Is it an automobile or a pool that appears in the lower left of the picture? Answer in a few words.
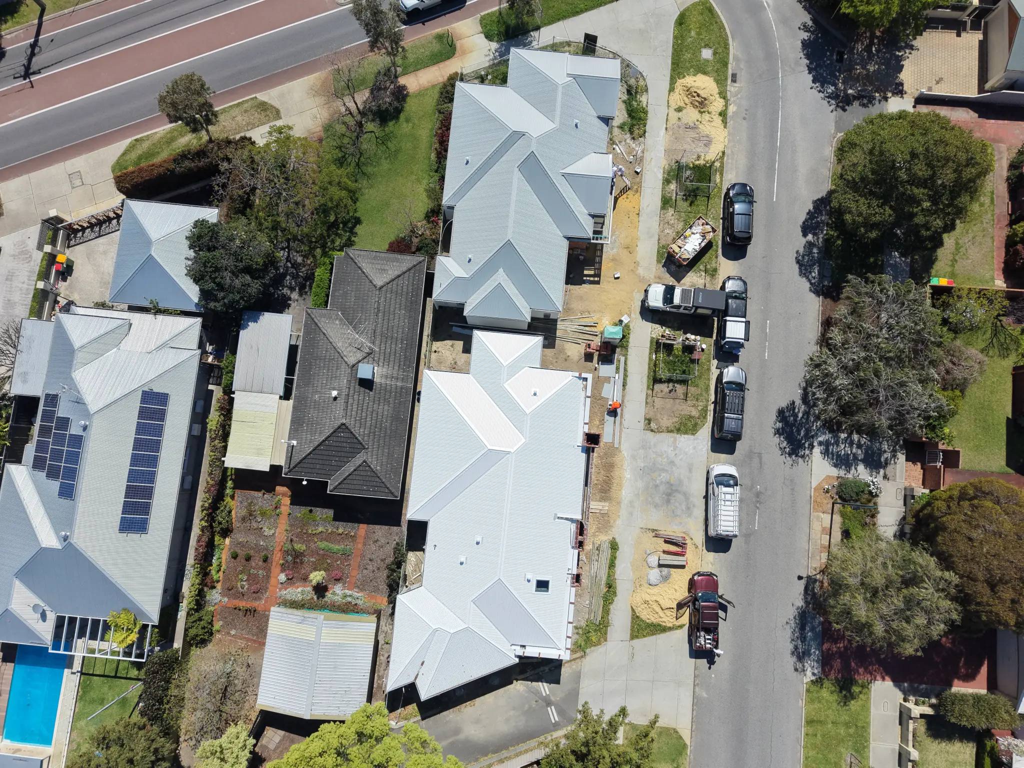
pool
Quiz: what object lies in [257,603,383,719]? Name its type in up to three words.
shed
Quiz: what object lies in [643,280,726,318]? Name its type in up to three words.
truck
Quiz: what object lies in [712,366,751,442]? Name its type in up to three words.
truck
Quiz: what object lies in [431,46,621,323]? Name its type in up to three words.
house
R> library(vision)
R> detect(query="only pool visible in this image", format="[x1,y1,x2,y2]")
[1,641,73,747]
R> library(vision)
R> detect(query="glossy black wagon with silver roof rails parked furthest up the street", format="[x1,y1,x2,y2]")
[722,184,758,247]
